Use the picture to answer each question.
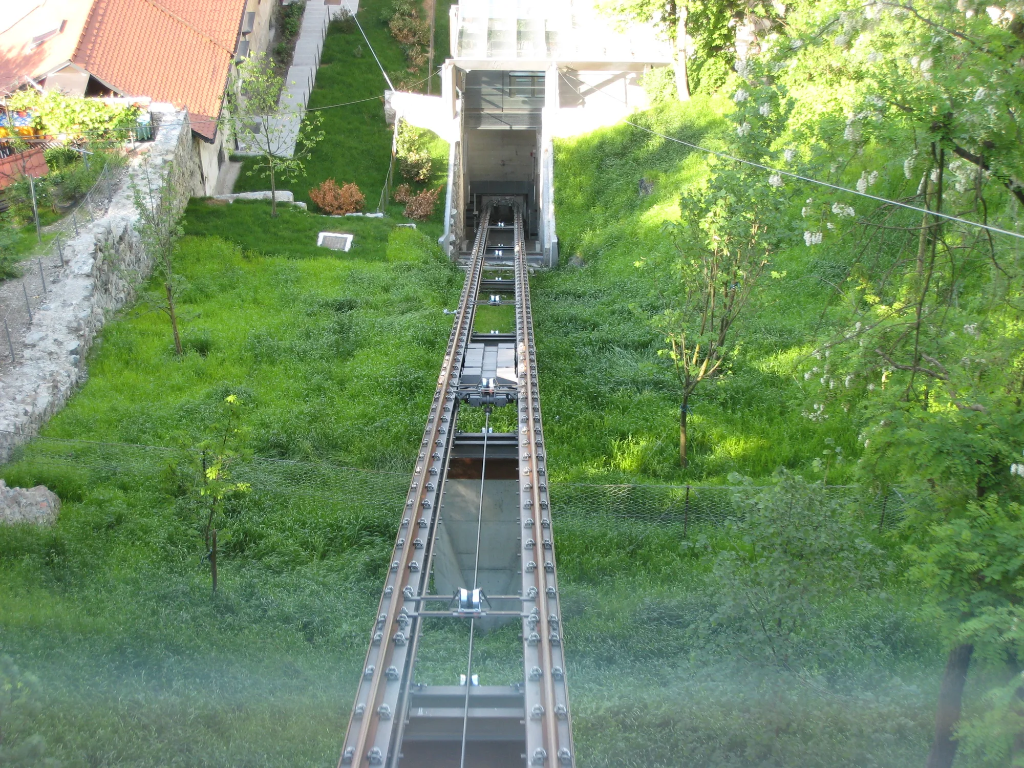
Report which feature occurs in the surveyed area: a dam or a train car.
train car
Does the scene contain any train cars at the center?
Yes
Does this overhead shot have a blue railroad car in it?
No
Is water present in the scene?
No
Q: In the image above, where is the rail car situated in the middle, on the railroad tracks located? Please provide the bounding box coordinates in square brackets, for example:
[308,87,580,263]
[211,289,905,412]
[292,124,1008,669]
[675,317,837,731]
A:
[458,340,516,410]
